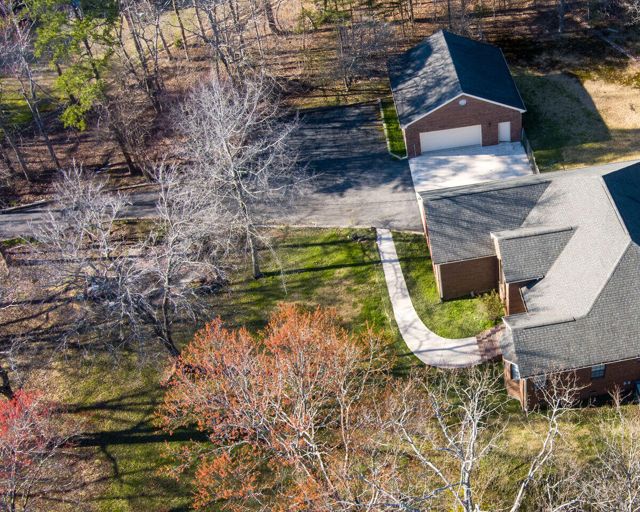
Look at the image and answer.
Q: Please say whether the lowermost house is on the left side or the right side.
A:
right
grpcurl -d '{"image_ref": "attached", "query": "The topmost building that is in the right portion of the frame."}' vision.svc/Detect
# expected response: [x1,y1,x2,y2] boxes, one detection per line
[384,29,528,158]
